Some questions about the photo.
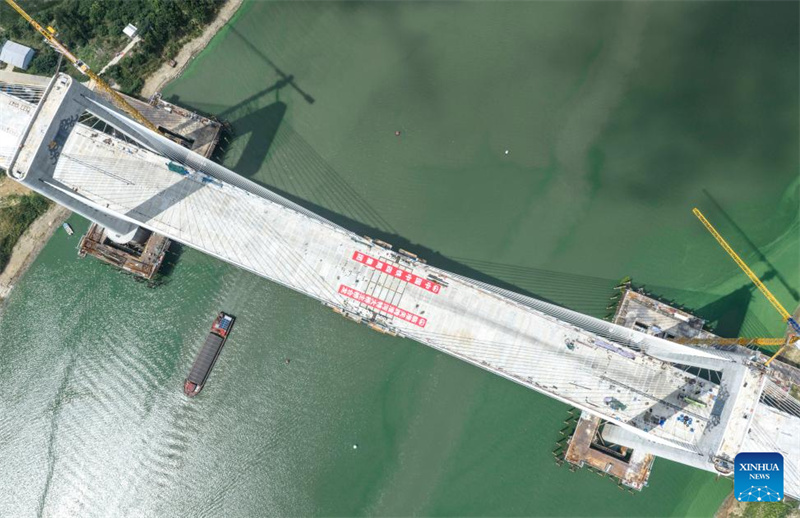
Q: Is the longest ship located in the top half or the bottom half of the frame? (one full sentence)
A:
The longest ship sits in the bottom half of the picture.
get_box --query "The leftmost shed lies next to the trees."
[0,38,36,70]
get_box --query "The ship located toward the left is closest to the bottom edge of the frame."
[181,309,236,397]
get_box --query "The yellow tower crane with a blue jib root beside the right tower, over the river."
[664,209,800,362]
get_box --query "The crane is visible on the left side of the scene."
[5,0,170,138]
